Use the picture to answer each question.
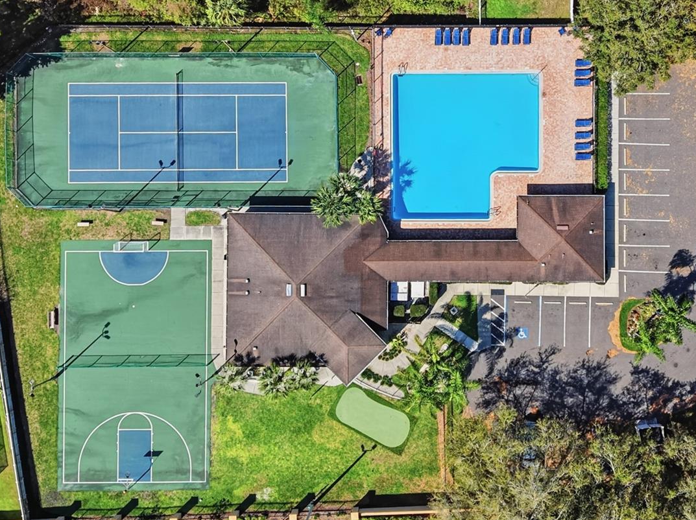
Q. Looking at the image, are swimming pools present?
Yes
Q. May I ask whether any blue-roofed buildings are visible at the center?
No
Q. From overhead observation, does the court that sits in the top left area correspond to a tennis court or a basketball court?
tennis court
